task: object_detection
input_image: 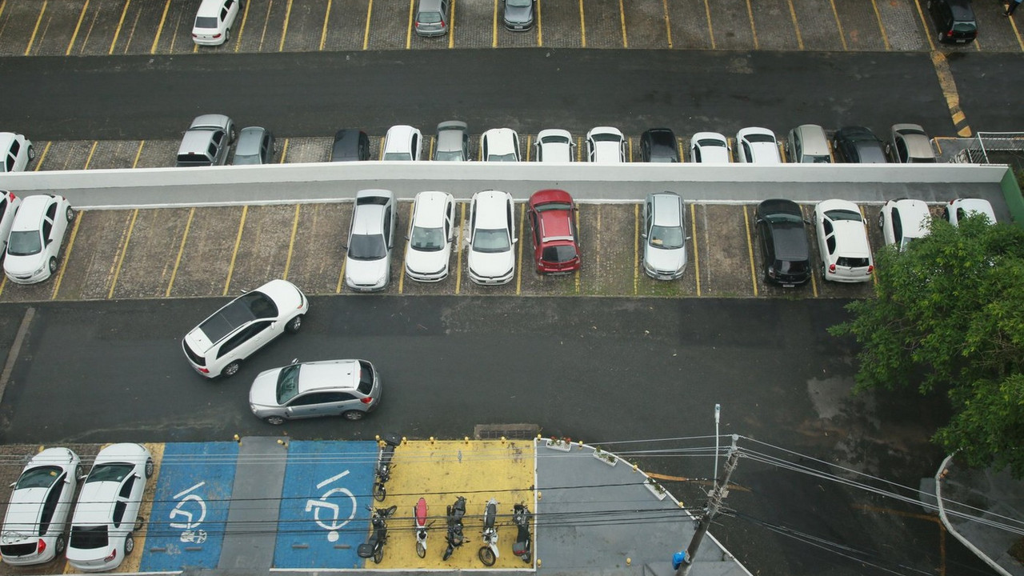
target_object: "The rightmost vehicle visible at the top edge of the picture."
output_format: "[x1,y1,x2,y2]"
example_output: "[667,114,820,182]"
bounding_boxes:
[926,0,979,42]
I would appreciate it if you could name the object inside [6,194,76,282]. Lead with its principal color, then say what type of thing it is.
white car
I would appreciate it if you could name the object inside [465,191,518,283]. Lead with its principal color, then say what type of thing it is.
white car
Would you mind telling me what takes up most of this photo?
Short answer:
paved ground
